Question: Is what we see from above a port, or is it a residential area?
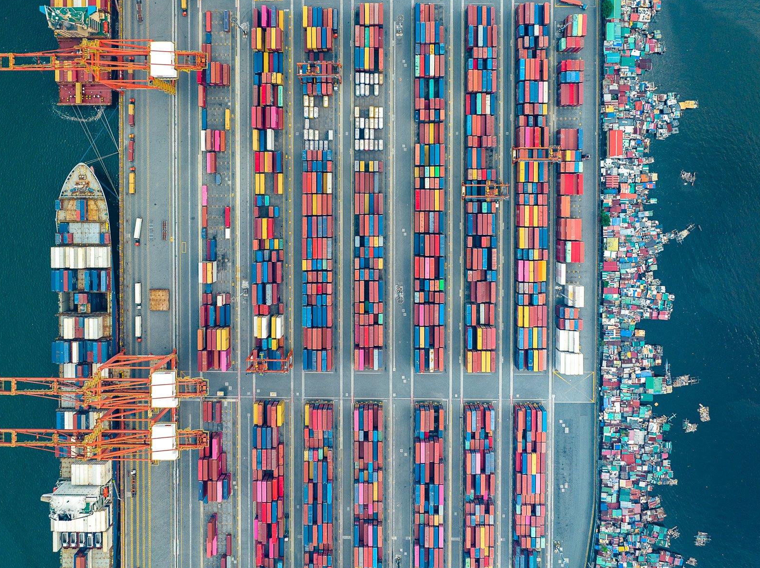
port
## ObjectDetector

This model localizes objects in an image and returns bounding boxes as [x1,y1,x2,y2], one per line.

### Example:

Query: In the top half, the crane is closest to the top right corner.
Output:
[510,143,563,166]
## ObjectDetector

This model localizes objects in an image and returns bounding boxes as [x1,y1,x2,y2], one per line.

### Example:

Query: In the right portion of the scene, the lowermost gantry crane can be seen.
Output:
[461,180,509,202]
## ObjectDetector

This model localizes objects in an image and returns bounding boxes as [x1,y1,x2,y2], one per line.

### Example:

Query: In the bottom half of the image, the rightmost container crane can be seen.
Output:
[247,348,293,375]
